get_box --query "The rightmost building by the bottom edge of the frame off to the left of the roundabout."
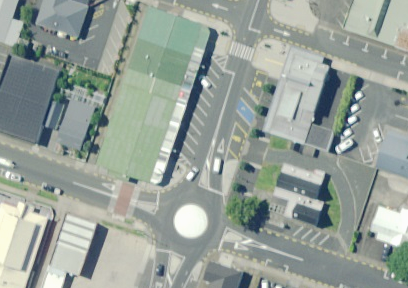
[51,215,96,276]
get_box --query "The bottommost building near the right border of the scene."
[372,206,408,247]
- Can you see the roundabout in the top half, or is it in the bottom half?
bottom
